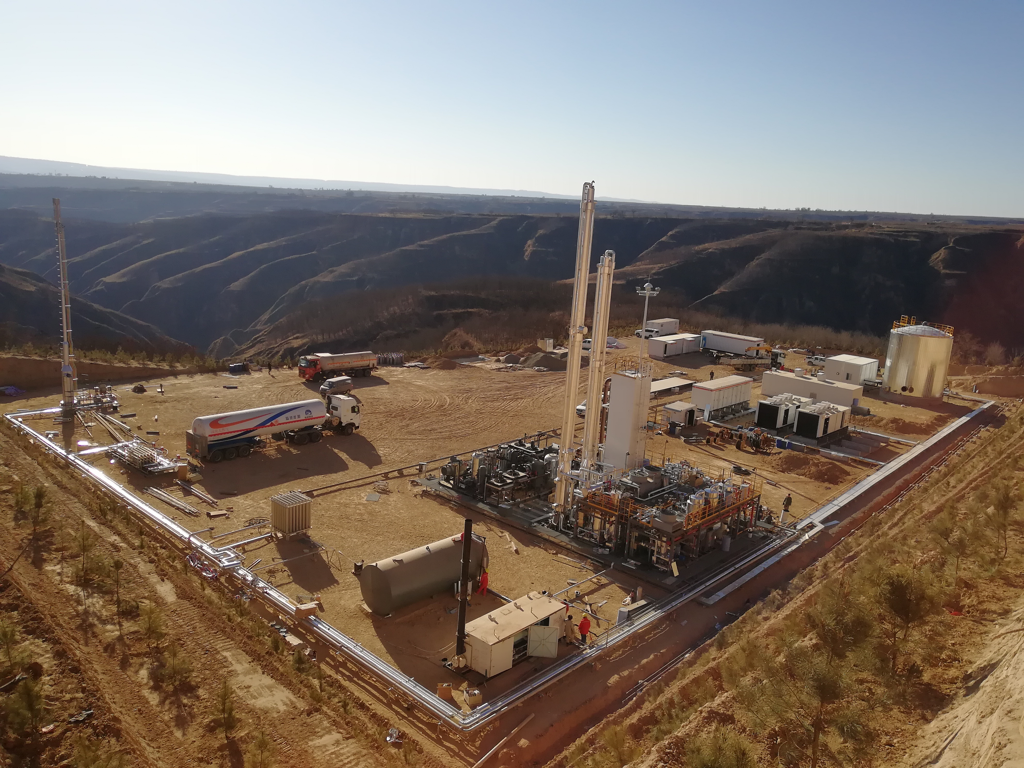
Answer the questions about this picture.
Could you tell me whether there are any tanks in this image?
Yes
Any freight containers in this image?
Yes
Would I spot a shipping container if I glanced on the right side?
Yes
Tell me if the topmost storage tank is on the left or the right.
right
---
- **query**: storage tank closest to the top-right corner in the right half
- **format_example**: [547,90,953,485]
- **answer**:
[877,319,956,408]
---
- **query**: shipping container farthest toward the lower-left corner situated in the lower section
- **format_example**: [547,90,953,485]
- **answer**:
[454,589,569,683]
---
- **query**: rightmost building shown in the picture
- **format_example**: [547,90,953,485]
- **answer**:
[827,353,882,384]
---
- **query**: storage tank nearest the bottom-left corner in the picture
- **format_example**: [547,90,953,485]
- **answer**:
[362,530,489,618]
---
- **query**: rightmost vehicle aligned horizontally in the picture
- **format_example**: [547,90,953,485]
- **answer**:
[800,351,832,364]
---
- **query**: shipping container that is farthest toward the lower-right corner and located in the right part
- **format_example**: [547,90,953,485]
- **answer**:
[693,372,753,411]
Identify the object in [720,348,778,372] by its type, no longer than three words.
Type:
truck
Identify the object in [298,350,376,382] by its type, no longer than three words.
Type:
truck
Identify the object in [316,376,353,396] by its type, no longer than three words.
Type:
vehicle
